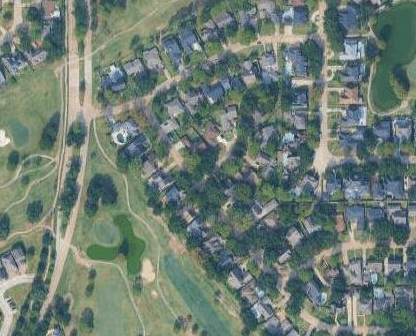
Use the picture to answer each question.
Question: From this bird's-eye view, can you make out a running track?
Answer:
No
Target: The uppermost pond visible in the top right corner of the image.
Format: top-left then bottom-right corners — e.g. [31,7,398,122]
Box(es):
[369,0,416,114]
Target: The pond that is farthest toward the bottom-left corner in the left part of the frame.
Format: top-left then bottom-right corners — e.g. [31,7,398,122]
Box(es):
[83,210,149,278]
